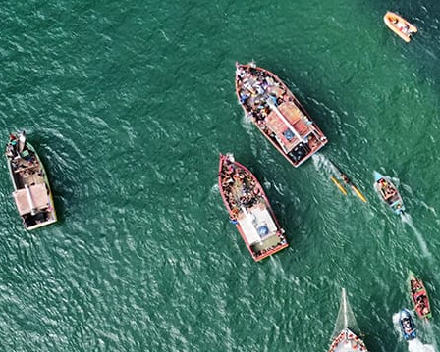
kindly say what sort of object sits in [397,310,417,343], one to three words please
boat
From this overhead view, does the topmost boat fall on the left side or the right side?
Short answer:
right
